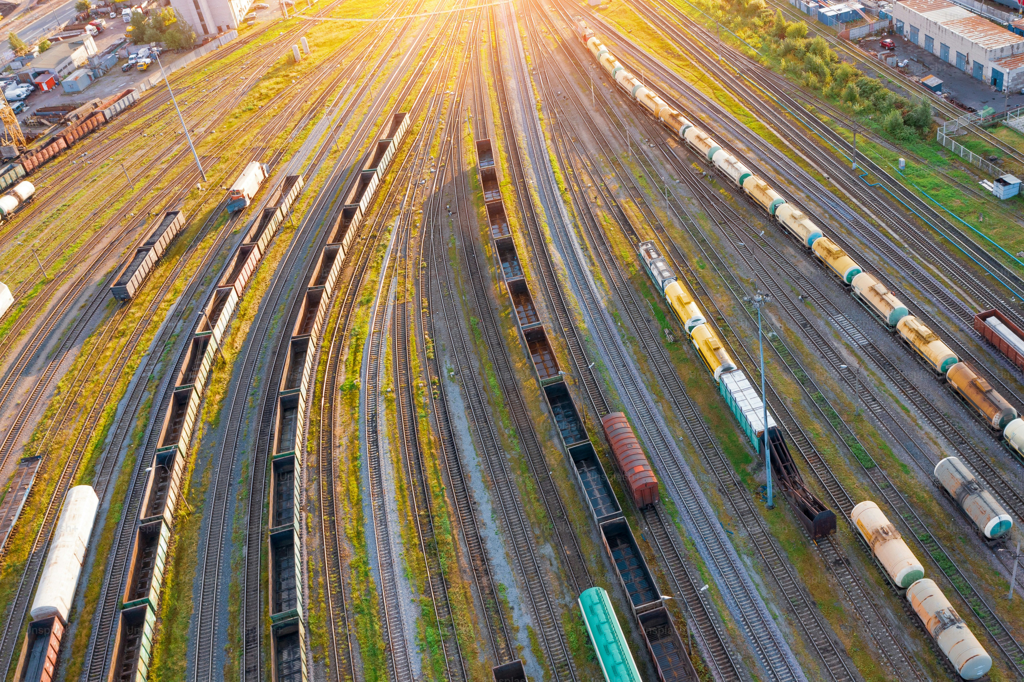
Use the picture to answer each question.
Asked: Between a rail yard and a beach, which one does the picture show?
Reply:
rail yard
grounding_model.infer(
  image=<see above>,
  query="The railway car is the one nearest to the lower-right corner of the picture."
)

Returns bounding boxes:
[904,579,996,682]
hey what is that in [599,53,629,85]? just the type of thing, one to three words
rail car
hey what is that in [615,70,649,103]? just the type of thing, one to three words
rail car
